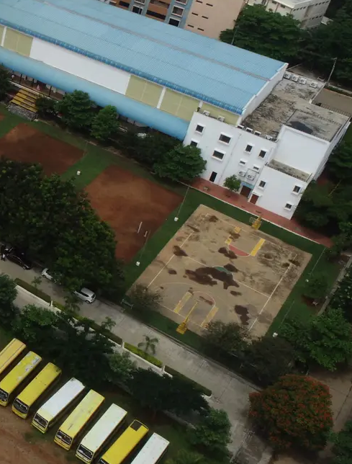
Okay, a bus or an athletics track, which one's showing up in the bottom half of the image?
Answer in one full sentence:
You can see a bus in the bottom half of the image.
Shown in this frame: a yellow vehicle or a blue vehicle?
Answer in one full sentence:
Visible in the photo is a yellow vehicle.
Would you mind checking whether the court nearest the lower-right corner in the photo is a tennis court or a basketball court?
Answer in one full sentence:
What you see as the court nearest the lower-right corner is a basketball court.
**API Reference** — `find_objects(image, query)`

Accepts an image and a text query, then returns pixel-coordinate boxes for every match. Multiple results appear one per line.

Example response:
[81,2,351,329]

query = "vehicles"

[54,390,105,453]
[73,405,126,464]
[10,364,63,421]
[31,377,82,438]
[74,289,98,305]
[101,420,148,464]
[43,269,62,284]
[7,251,31,268]
[0,353,42,410]
[136,435,172,464]
[0,341,26,384]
